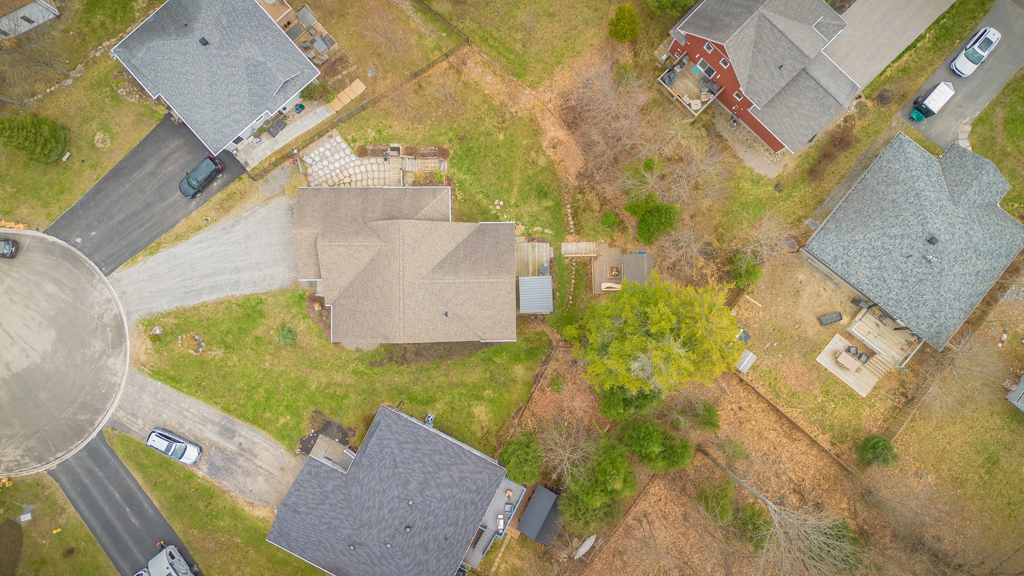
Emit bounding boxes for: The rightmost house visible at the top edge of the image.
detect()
[667,0,861,154]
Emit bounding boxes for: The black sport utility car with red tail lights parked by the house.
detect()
[178,152,230,202]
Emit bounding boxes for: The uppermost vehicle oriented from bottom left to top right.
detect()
[948,23,1005,81]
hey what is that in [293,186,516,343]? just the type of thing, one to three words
house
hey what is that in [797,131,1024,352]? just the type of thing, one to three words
house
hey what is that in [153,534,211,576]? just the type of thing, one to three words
vehicle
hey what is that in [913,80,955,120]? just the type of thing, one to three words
trailer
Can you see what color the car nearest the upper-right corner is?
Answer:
white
